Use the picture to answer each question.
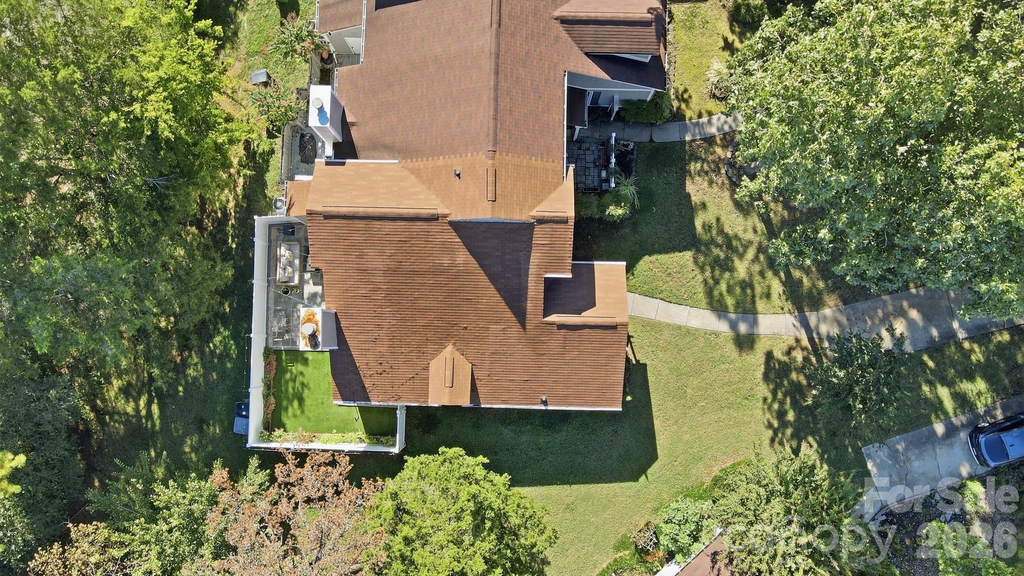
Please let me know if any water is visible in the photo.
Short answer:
No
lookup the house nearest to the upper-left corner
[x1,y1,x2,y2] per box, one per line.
[283,0,668,413]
